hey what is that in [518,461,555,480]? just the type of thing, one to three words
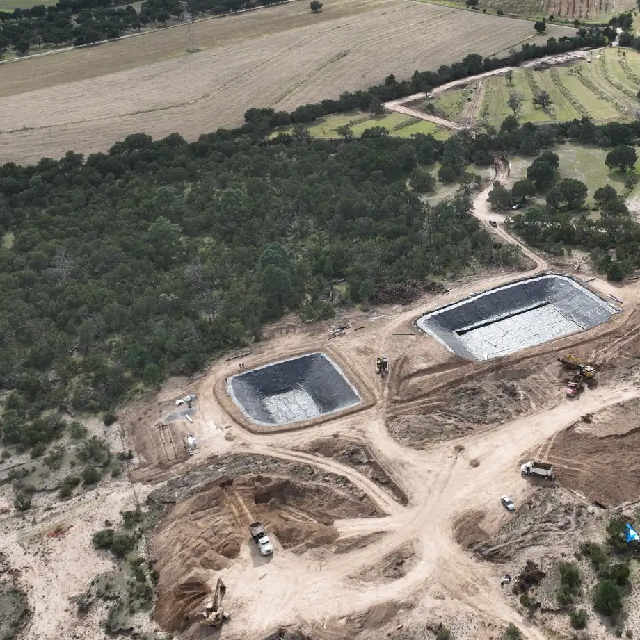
vehicle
